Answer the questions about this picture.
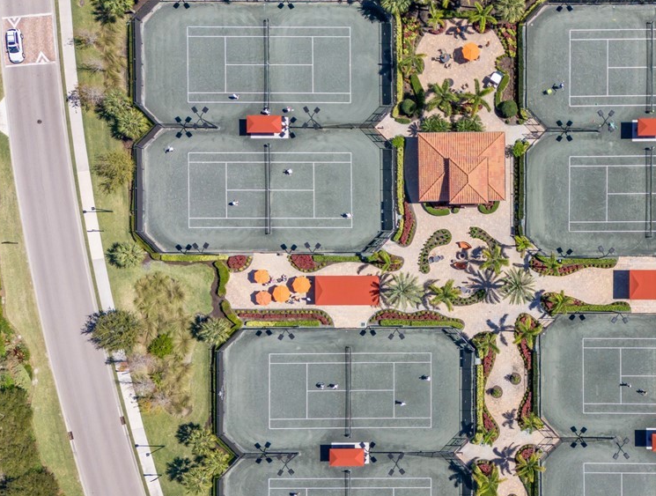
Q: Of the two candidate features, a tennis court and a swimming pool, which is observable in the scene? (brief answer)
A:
tennis court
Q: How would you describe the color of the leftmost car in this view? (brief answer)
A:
white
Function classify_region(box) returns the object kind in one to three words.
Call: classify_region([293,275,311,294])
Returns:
umbrella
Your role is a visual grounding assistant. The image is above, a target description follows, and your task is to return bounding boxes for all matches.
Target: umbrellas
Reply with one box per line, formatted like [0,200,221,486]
[254,268,271,284]
[273,285,291,303]
[293,275,311,294]
[255,290,273,306]
[463,45,479,61]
